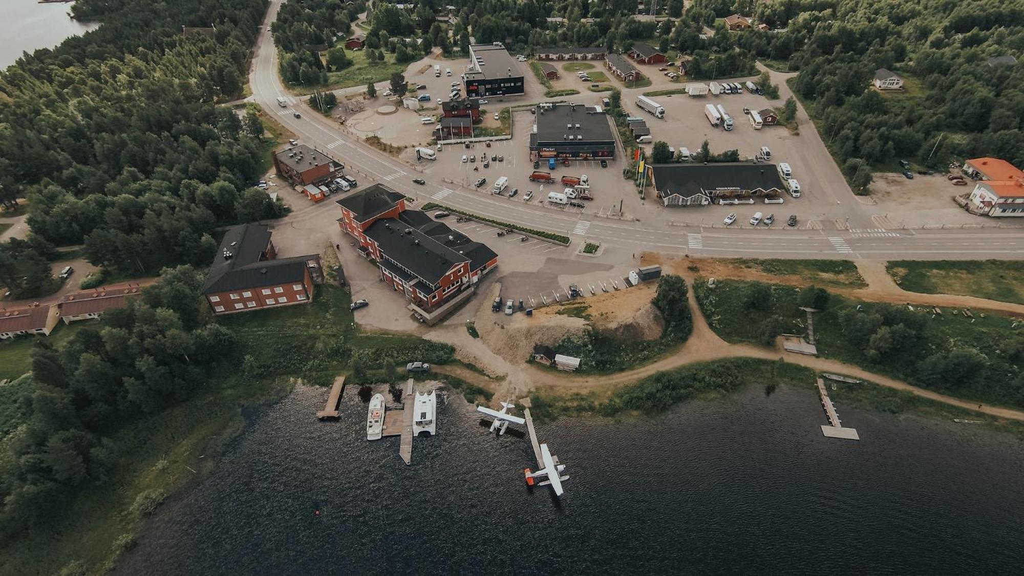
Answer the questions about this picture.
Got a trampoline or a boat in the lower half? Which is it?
boat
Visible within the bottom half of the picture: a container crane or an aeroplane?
aeroplane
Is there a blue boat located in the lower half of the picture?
No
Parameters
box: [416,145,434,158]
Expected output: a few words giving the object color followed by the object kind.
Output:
white vehicle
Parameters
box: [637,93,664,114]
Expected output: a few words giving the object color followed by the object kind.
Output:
white truck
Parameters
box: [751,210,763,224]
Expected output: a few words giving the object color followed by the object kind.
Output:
white vehicle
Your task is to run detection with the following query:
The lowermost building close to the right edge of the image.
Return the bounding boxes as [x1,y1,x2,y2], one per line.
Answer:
[961,160,1024,215]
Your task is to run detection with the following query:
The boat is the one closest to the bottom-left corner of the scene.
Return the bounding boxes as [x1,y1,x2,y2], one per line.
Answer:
[367,390,385,445]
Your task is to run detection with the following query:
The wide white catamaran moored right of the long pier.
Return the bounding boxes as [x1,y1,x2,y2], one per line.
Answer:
[414,391,436,440]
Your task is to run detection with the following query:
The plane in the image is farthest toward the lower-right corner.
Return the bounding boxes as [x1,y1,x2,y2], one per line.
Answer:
[523,443,571,496]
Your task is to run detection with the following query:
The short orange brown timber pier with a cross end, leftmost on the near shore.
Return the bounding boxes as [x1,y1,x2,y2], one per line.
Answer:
[317,377,346,418]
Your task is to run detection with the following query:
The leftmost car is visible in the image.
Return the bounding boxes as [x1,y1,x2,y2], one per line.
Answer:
[60,266,73,279]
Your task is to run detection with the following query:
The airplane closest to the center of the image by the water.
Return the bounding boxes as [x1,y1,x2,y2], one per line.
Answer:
[477,393,526,435]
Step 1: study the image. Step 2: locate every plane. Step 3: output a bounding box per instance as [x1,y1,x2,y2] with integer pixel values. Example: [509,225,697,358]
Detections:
[523,443,571,496]
[477,393,526,435]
